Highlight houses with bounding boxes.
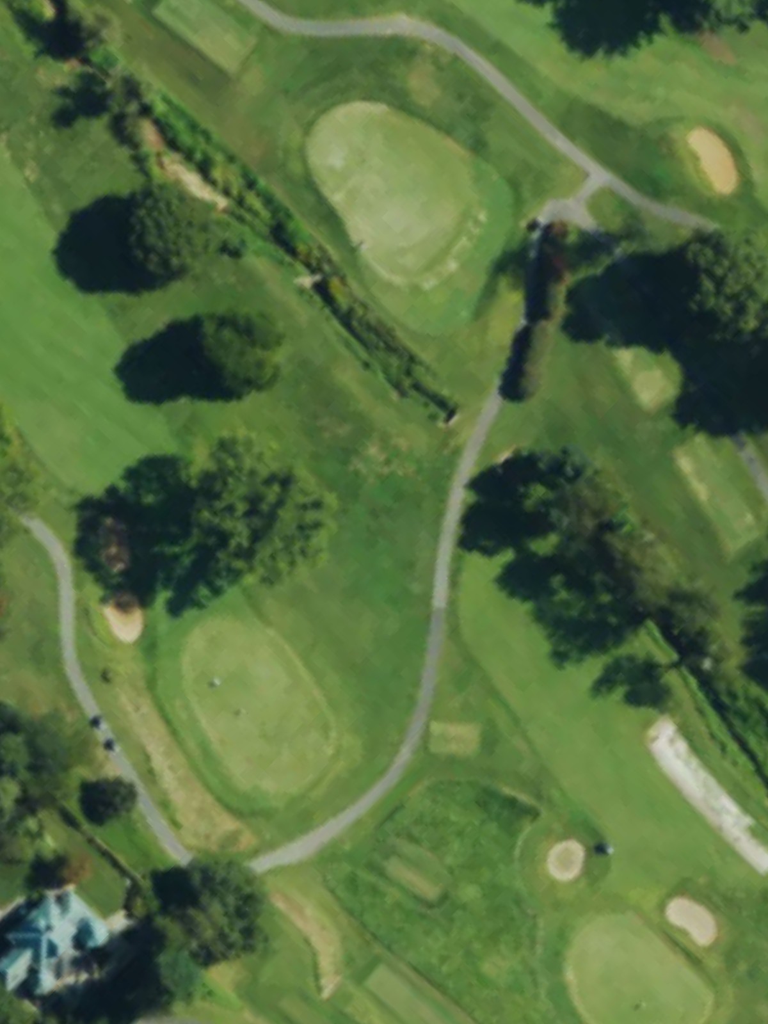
[0,890,107,994]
